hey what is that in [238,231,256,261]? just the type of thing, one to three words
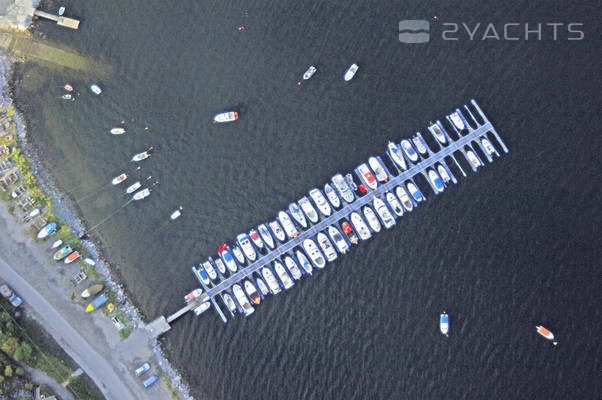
boat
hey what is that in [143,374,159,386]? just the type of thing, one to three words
vehicle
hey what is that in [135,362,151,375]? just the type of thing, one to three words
vehicle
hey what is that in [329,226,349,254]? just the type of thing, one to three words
boat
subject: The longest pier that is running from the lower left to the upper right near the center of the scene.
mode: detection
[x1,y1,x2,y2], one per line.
[192,99,507,322]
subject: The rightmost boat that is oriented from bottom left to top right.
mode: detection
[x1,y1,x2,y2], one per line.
[345,63,359,80]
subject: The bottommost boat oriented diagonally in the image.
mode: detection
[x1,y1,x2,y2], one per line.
[537,325,554,339]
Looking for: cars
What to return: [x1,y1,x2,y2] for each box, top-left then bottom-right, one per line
[135,362,151,375]
[143,374,159,386]
[0,283,13,299]
[9,294,22,307]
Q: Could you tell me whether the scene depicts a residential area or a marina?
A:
marina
